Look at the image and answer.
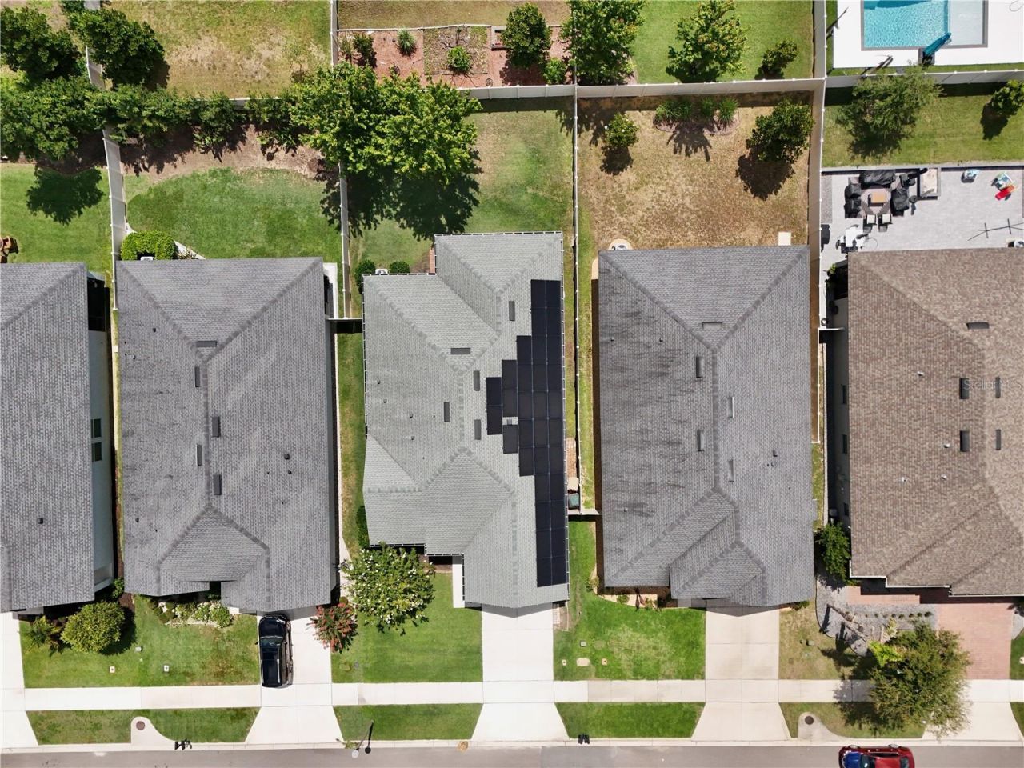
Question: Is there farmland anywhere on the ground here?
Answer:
No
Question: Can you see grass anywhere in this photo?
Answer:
Yes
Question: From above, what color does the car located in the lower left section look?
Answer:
black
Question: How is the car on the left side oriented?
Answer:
vertically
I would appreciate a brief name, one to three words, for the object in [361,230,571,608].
house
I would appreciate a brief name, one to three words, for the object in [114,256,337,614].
house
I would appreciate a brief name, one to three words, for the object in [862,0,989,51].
swimming pool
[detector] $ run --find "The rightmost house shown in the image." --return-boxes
[834,246,1024,598]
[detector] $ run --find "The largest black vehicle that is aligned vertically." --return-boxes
[255,613,292,687]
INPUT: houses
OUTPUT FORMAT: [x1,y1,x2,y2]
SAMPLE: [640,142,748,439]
[114,256,337,614]
[361,230,571,608]
[597,245,817,607]
[0,261,115,614]
[834,246,1024,598]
